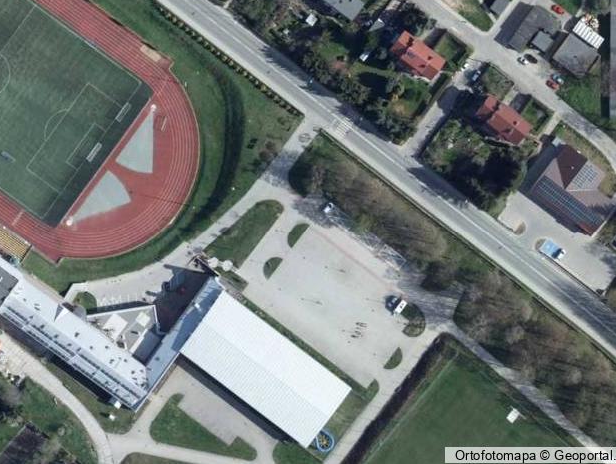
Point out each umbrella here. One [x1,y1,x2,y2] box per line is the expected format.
[208,257,219,267]
[223,260,232,270]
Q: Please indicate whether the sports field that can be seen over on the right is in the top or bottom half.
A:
bottom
